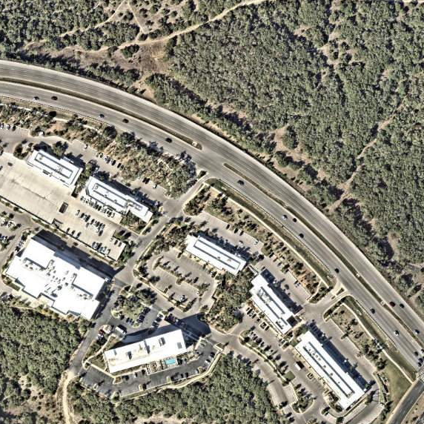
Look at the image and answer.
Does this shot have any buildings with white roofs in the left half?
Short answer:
Yes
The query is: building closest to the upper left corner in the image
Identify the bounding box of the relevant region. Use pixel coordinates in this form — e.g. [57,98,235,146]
[27,149,82,189]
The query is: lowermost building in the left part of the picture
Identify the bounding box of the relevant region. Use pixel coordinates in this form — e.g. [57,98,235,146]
[103,330,187,373]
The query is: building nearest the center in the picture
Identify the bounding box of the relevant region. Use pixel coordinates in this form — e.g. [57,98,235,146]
[183,235,247,276]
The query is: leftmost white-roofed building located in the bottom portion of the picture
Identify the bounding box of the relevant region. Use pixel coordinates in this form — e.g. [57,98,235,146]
[6,239,108,320]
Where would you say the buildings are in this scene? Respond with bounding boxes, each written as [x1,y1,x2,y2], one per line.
[294,331,365,410]
[6,239,108,320]
[183,235,247,276]
[103,330,187,373]
[85,176,154,224]
[250,273,293,335]
[27,149,82,189]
